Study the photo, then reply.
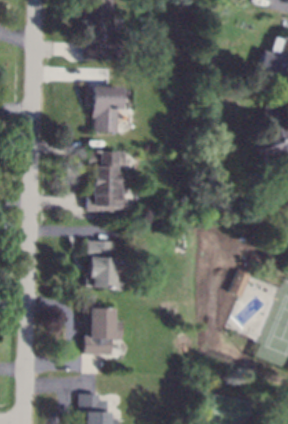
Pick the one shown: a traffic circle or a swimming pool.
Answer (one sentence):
There is a swimming pool in the scene.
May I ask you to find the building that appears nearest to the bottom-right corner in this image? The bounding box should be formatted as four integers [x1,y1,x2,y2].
[229,269,250,298]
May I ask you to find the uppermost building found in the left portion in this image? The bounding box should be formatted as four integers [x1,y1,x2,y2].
[93,85,129,134]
